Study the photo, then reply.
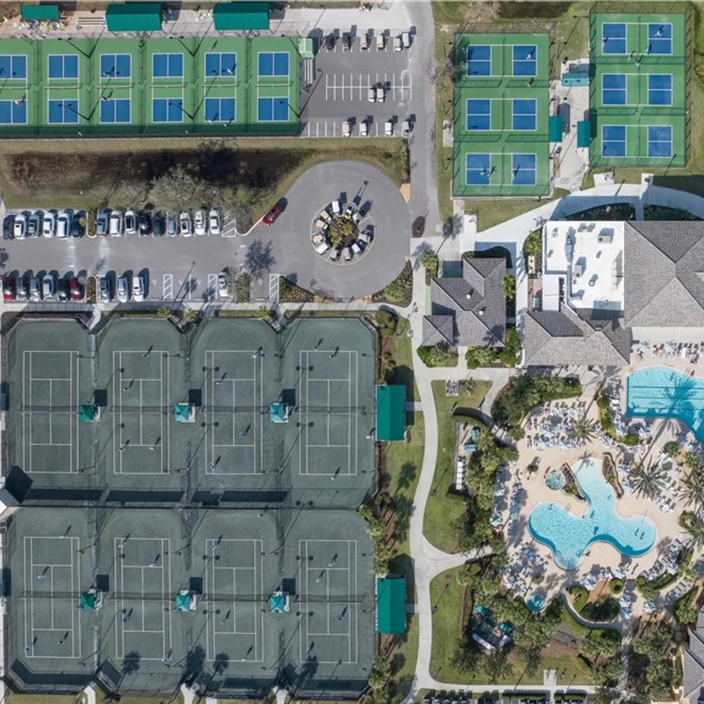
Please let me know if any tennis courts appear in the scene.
Yes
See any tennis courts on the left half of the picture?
Yes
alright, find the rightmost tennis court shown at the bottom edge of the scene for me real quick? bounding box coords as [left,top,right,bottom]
[279,507,375,697]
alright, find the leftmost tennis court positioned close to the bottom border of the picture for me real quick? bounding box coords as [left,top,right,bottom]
[6,507,95,692]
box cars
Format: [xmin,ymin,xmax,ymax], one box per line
[25,210,41,240]
[131,276,145,301]
[56,277,70,302]
[110,208,124,238]
[165,214,178,238]
[13,214,27,239]
[138,211,152,237]
[96,211,111,237]
[180,211,191,236]
[43,212,56,237]
[152,211,166,237]
[262,203,285,225]
[209,209,221,234]
[56,212,71,237]
[72,212,86,238]
[40,274,55,298]
[97,277,111,301]
[1,215,15,240]
[196,210,206,235]
[1,276,15,301]
[29,276,42,301]
[124,209,137,235]
[16,276,30,301]
[70,276,84,301]
[117,276,130,301]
